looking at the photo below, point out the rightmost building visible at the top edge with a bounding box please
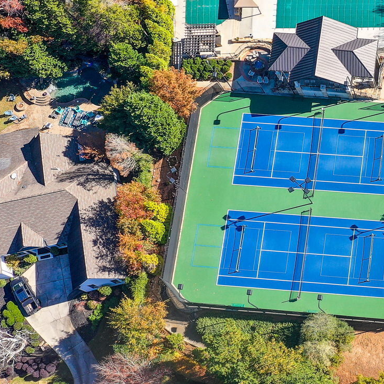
[265,16,378,99]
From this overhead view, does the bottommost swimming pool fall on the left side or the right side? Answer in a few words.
left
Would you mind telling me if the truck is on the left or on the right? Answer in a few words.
left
